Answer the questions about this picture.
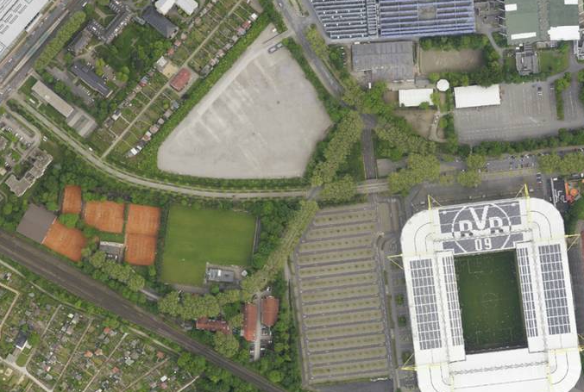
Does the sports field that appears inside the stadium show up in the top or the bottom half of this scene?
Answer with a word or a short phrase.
bottom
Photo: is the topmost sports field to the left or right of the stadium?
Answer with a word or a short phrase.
left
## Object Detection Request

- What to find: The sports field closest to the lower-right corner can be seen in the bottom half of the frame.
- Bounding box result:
[453,248,527,351]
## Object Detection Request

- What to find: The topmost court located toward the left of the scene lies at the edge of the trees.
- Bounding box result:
[62,185,81,212]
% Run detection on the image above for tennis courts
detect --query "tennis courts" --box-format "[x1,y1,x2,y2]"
[124,236,157,265]
[42,219,86,260]
[62,185,81,212]
[126,205,159,236]
[84,201,124,233]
